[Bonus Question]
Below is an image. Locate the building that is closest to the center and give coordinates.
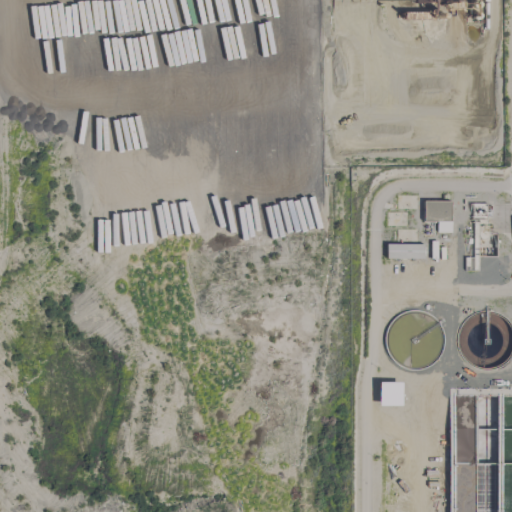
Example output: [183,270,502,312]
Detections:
[389,244,428,259]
